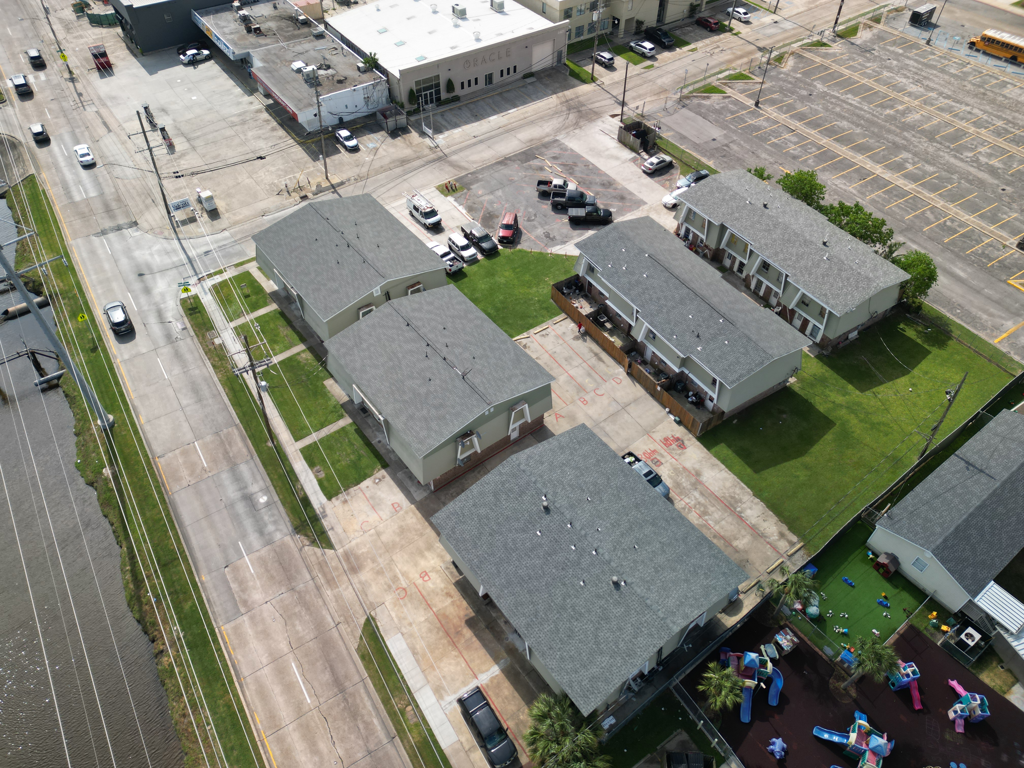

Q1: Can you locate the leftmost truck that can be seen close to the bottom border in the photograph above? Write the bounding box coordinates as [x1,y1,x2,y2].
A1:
[454,679,514,768]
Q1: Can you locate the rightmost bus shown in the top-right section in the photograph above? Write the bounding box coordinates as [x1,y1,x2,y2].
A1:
[969,33,1024,69]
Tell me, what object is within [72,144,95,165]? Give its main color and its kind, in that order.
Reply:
white car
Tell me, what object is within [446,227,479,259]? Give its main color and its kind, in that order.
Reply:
white car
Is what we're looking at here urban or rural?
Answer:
urban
